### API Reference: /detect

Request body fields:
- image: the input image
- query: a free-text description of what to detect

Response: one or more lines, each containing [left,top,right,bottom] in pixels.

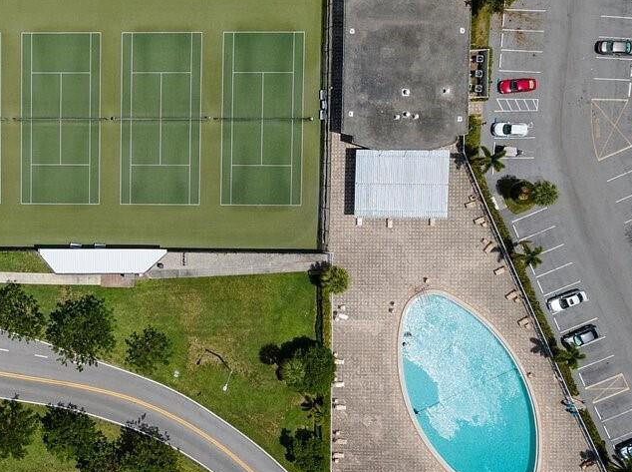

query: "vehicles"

[546,286,586,312]
[614,439,632,458]
[562,324,599,348]
[597,40,632,55]
[498,77,537,95]
[491,120,529,138]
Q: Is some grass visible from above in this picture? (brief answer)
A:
Yes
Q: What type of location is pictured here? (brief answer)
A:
sports ground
